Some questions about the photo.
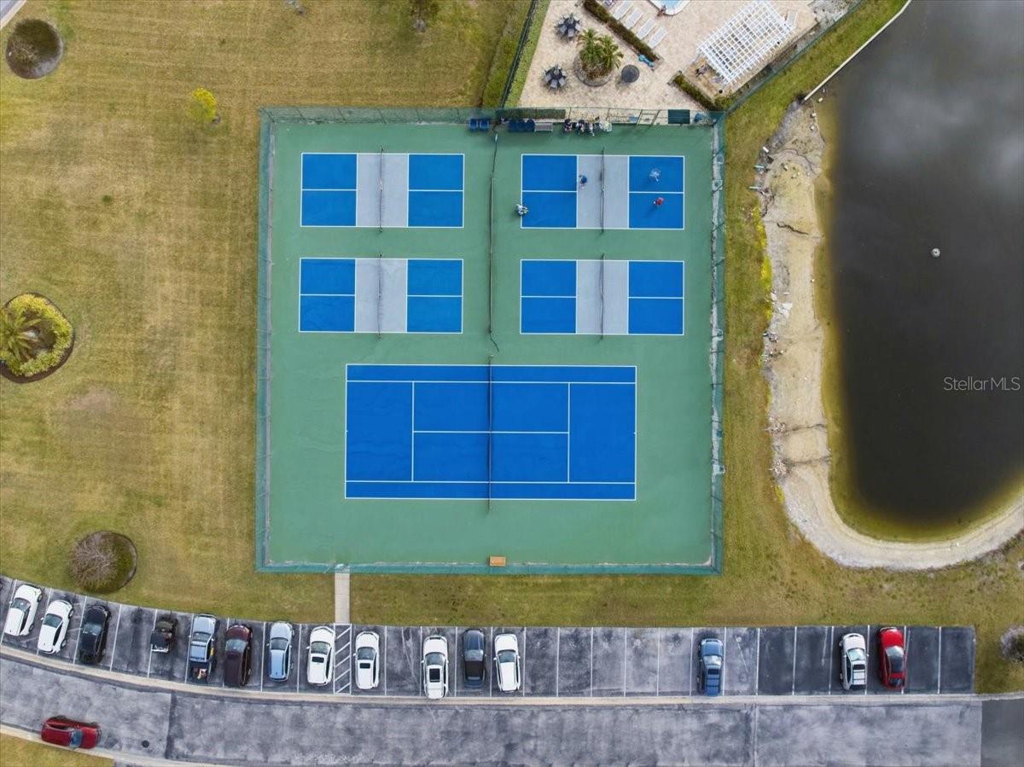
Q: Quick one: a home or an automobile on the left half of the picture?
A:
automobile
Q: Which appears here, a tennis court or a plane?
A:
tennis court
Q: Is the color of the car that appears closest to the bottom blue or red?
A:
red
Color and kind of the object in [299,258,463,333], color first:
blue sports court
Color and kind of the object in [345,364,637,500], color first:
blue tennis court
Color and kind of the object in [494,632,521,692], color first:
white car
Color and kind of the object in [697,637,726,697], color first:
blue car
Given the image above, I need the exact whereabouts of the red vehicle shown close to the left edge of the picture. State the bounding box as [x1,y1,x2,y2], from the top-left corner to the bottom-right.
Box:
[39,716,103,751]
